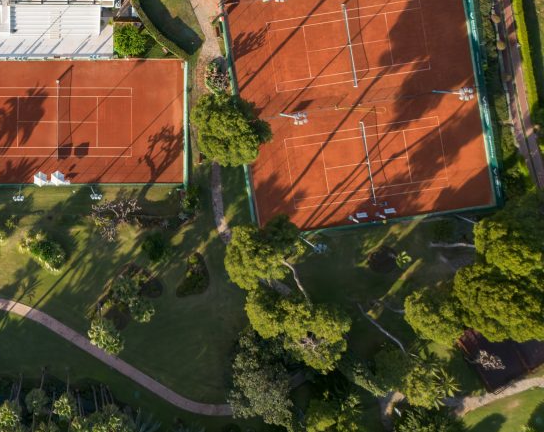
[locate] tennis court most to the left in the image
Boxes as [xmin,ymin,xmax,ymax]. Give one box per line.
[0,60,185,184]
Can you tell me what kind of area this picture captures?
sports ground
